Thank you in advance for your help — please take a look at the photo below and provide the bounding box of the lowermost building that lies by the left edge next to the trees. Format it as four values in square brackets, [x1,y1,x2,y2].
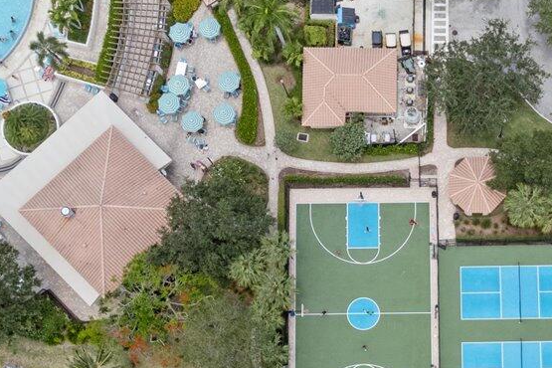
[0,92,196,305]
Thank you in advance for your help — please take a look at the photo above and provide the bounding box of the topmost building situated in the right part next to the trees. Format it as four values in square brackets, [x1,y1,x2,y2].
[302,47,397,133]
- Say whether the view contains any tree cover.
Yes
